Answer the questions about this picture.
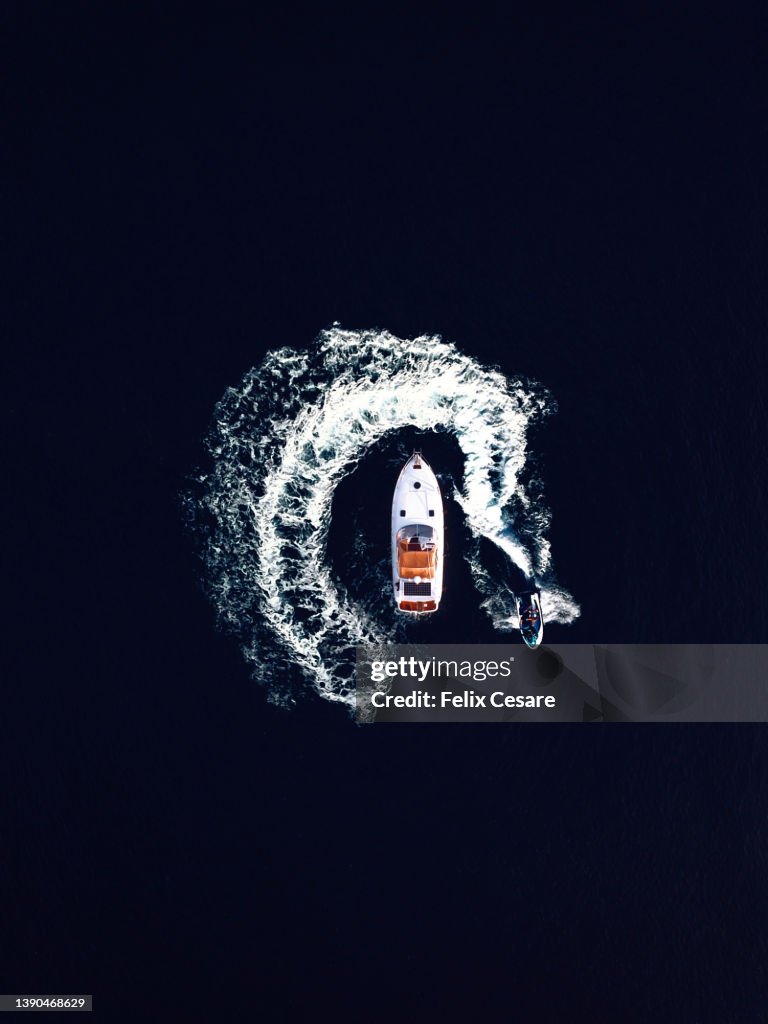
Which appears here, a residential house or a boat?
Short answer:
boat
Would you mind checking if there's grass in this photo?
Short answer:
No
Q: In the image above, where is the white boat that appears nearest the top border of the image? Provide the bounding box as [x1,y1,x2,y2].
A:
[391,447,444,613]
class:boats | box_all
[517,587,542,649]
[391,447,444,613]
